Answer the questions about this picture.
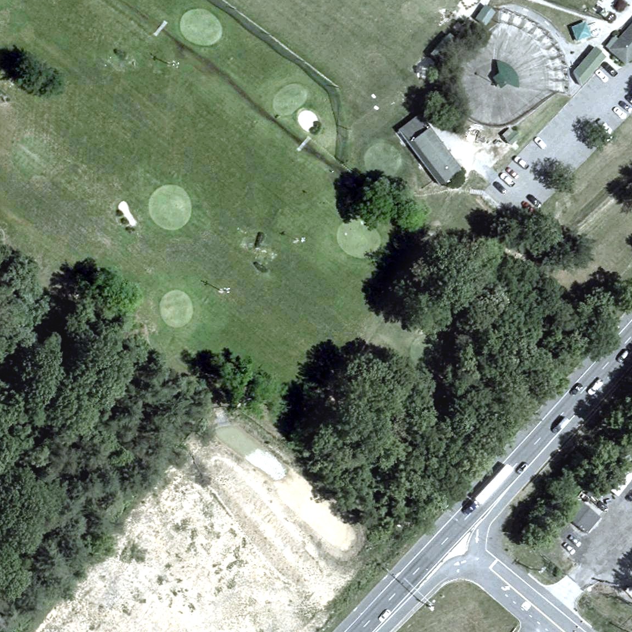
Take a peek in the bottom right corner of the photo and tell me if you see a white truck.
Yes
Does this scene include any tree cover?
Yes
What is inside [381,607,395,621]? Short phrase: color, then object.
white car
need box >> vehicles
[521,200,535,214]
[533,136,547,150]
[618,98,632,113]
[459,463,513,517]
[552,415,568,431]
[612,105,627,120]
[603,121,615,135]
[381,607,395,621]
[566,534,580,548]
[569,382,583,396]
[587,379,603,396]
[526,192,540,207]
[602,61,617,77]
[512,154,528,170]
[513,461,527,476]
[623,492,632,504]
[594,68,608,83]
[492,180,507,195]
[506,165,520,180]
[499,173,514,187]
